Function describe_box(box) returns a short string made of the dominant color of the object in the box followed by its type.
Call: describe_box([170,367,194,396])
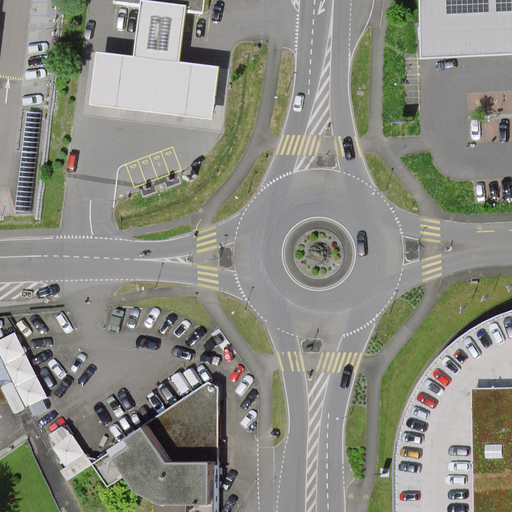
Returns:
white vehicle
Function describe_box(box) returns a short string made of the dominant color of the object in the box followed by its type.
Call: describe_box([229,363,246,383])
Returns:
red car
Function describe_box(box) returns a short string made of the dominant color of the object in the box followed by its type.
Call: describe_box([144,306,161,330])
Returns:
white car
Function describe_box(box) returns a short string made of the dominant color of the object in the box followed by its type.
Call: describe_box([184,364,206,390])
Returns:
white vehicle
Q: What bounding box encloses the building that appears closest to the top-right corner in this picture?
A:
[420,0,512,58]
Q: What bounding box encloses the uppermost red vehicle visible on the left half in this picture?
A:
[66,151,80,172]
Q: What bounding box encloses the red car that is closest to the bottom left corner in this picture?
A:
[47,415,68,432]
